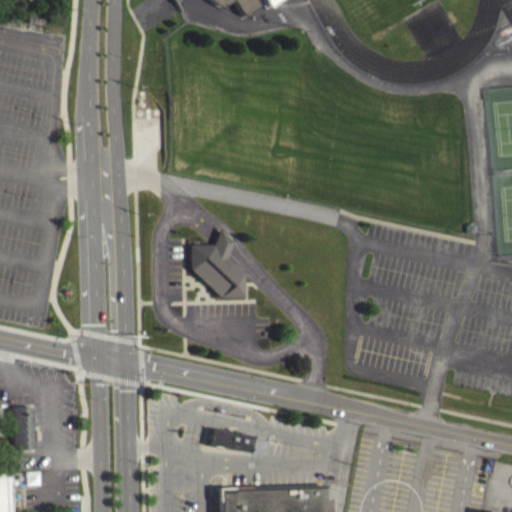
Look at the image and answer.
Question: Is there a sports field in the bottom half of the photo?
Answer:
No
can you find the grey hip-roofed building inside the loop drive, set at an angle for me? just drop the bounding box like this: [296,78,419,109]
[192,230,246,299]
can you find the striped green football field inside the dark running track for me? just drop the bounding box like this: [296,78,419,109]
[336,0,477,61]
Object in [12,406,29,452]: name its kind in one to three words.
building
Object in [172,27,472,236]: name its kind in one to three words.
sports field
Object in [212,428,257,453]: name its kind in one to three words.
building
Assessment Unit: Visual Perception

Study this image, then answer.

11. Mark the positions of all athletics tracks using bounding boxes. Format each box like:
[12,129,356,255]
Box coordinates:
[308,0,501,85]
